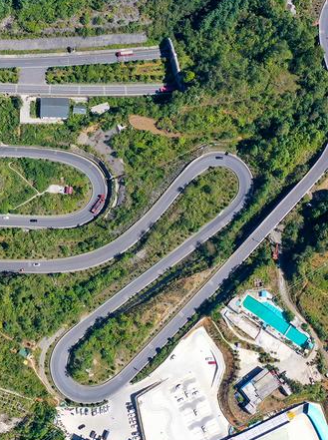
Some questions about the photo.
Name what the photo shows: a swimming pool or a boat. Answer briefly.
swimming pool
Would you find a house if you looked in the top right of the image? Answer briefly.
No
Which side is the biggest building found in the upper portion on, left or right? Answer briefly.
left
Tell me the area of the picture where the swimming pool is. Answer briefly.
bottom right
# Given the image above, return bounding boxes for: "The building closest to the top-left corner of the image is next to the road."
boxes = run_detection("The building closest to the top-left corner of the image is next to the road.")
[40,98,69,118]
